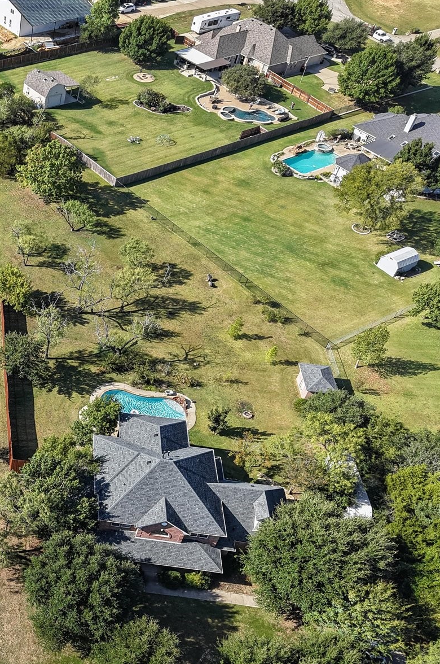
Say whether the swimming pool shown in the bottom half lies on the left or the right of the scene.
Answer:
left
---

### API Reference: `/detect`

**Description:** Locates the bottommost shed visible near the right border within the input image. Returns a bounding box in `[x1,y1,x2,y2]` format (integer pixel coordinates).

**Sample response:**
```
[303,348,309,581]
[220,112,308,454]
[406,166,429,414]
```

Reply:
[377,243,421,277]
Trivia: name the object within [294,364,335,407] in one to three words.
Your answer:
shed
